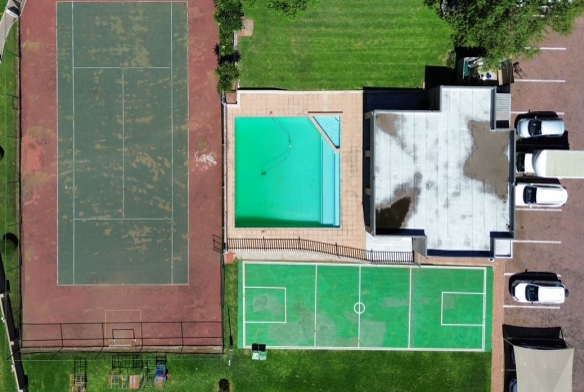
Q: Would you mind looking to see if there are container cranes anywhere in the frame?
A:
No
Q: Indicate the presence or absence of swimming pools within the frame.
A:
Yes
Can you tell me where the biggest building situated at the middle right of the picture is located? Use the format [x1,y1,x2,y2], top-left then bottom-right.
[364,86,515,262]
